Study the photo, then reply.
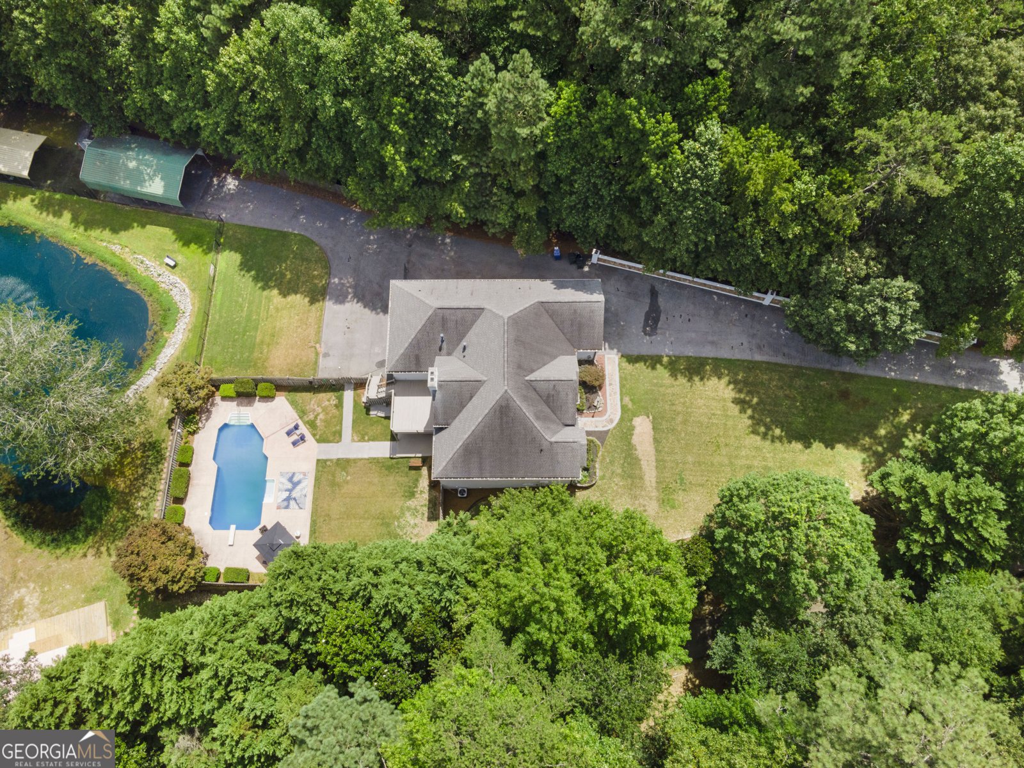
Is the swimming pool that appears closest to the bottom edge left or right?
left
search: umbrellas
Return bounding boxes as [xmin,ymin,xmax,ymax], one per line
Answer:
[253,521,305,567]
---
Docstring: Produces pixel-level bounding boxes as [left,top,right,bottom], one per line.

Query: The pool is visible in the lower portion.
[186,396,317,573]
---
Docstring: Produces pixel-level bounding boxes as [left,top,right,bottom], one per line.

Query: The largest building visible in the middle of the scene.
[385,278,607,485]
